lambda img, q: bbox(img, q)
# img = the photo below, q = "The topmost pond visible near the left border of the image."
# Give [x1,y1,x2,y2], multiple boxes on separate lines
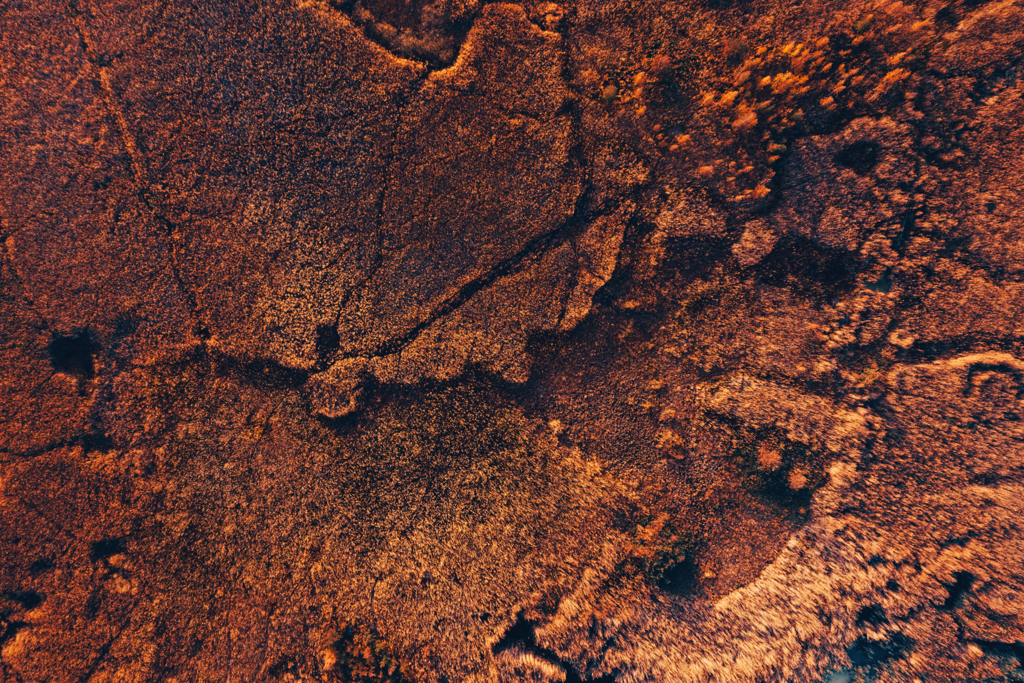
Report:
[46,327,100,375]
